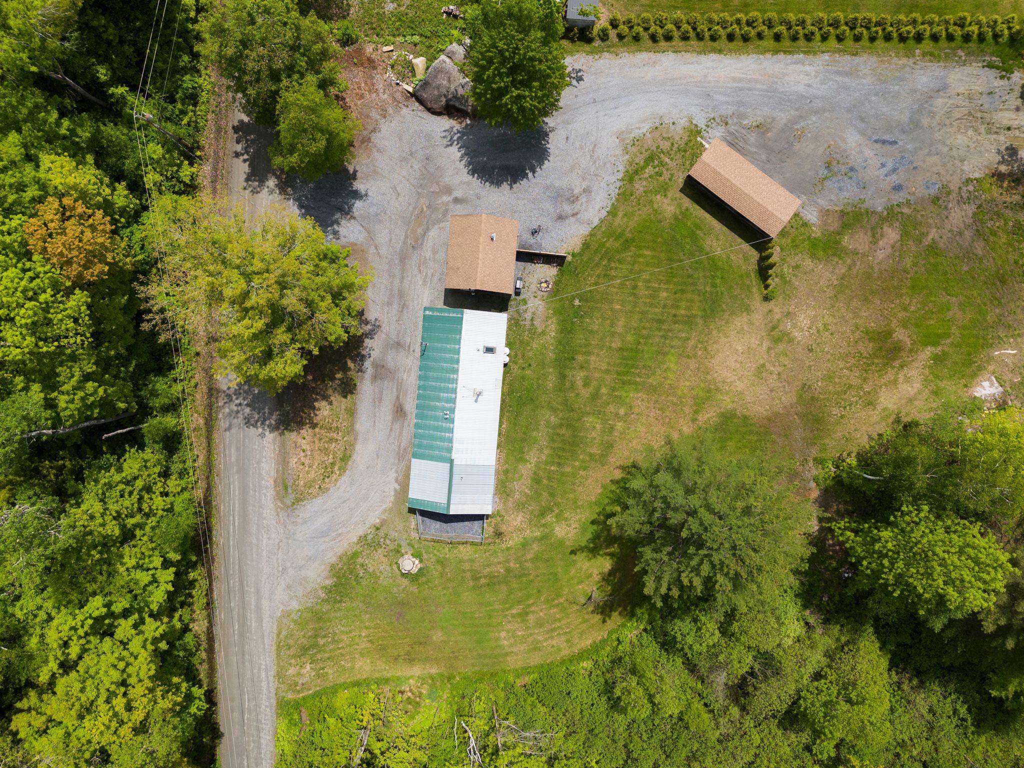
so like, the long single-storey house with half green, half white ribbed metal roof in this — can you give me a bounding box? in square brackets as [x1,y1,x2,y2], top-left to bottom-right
[409,307,507,514]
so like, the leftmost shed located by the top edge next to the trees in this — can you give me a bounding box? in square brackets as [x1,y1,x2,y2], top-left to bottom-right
[566,0,600,28]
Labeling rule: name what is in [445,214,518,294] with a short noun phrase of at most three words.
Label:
building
